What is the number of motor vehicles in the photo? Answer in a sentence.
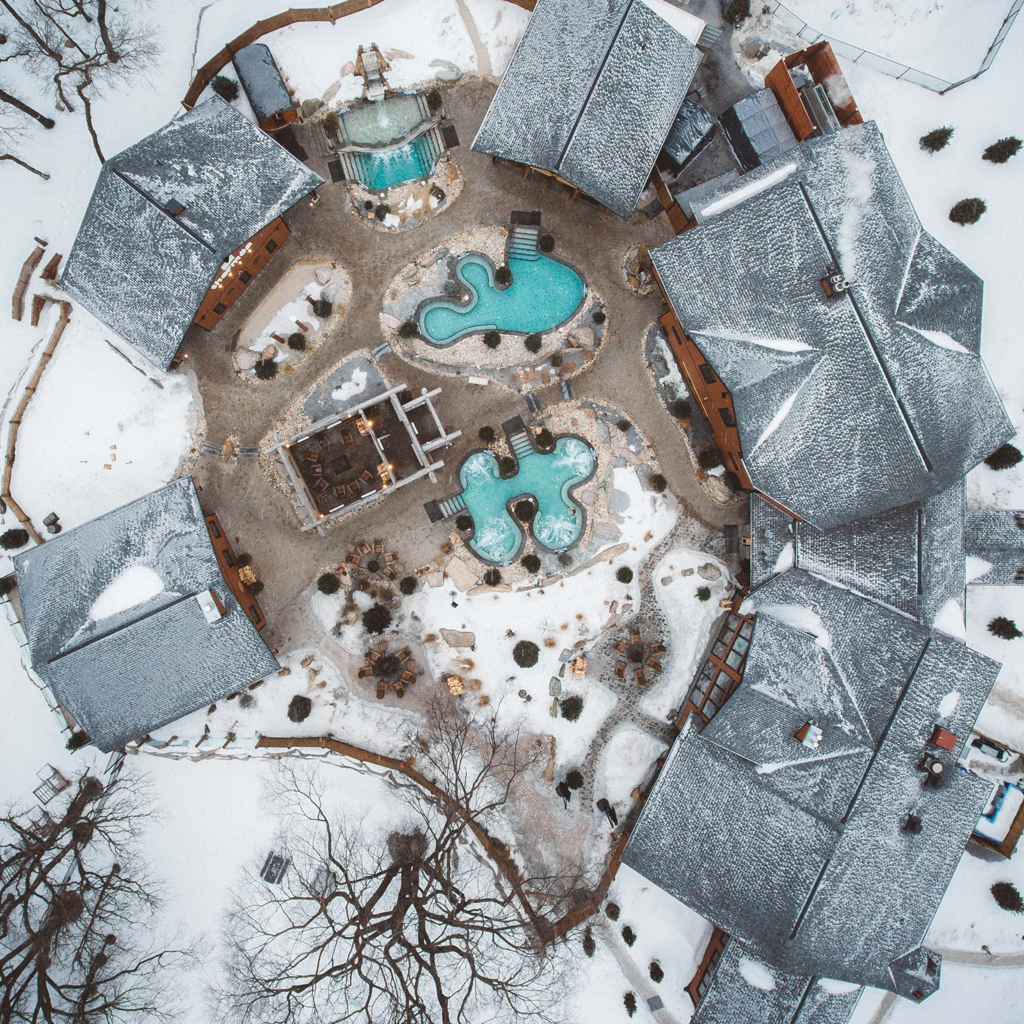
The picture shows no motor vehicles.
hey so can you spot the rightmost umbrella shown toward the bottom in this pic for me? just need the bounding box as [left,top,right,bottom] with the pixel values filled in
[597,800,618,828]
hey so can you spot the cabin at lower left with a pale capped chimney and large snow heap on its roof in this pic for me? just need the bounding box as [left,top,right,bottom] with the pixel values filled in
[13,474,282,753]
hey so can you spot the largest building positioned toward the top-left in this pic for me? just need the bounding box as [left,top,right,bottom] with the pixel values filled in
[58,94,325,371]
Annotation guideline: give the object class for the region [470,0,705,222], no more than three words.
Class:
barn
